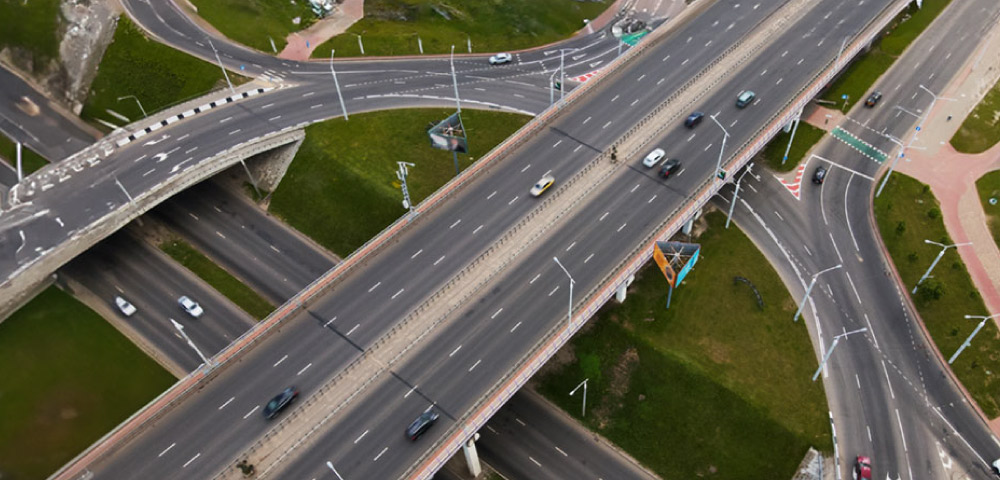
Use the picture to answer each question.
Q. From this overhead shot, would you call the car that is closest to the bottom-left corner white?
Yes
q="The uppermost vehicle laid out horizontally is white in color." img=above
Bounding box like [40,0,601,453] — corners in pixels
[488,52,513,64]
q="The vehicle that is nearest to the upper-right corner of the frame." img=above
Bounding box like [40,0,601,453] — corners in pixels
[864,90,883,105]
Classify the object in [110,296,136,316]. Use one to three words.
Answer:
car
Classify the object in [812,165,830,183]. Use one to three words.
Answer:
car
